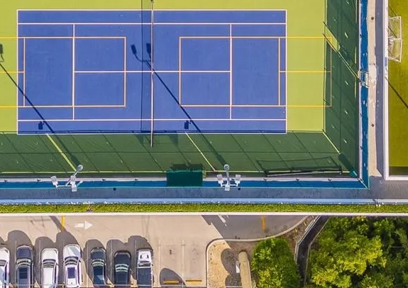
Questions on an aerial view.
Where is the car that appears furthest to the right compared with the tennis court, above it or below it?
below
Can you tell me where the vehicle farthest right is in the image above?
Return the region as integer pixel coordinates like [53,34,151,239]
[134,245,155,287]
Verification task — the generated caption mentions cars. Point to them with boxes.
[88,244,109,287]
[134,245,155,287]
[111,248,132,288]
[0,245,11,288]
[60,241,82,287]
[12,245,34,288]
[39,244,60,288]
